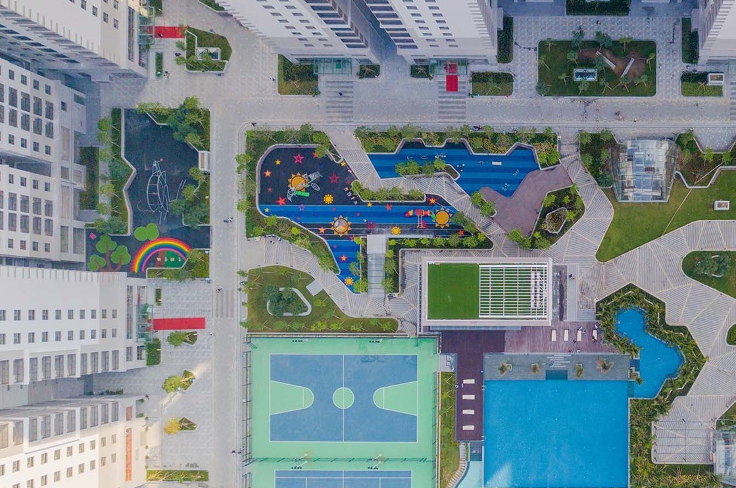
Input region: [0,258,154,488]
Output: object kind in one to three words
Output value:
building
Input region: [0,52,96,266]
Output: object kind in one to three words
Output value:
building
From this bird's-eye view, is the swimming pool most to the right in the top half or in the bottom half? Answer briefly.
bottom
